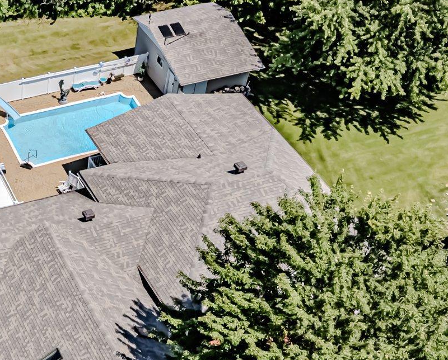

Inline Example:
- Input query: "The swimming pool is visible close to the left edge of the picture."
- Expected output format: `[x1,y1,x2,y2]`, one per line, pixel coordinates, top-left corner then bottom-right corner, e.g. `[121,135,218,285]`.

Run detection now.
[0,90,142,166]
